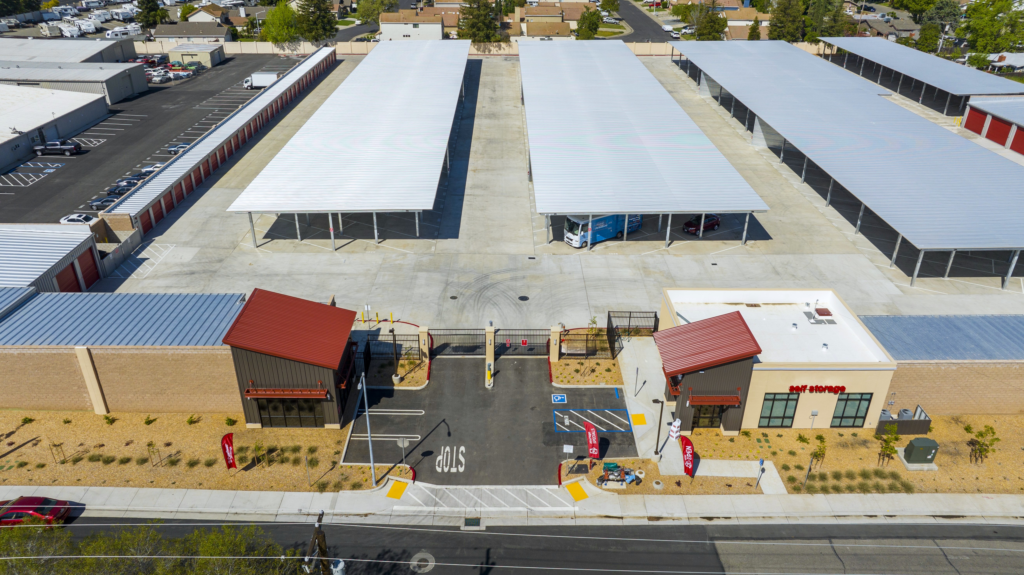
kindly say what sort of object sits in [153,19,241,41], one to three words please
house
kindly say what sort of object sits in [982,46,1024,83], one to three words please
house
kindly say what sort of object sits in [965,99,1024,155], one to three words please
building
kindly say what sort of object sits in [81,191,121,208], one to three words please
car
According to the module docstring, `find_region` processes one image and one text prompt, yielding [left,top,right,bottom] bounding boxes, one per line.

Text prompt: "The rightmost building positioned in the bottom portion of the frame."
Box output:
[854,313,1024,415]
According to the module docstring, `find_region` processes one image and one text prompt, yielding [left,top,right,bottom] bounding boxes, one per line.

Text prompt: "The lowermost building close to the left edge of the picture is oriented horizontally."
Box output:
[0,287,278,414]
